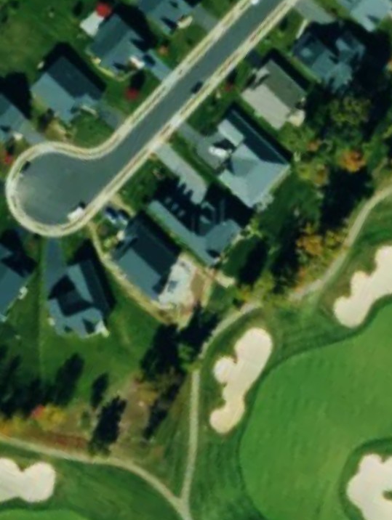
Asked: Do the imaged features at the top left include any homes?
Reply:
Yes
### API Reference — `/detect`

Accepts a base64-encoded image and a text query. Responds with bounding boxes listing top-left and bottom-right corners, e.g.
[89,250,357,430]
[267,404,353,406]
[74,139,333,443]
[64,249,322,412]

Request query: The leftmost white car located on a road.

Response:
[69,204,84,218]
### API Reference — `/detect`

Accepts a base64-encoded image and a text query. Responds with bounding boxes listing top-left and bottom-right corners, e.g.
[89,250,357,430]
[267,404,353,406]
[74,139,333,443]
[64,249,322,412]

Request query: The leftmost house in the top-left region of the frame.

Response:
[0,93,33,152]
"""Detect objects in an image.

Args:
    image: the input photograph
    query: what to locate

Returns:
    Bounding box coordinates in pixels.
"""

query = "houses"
[0,93,33,152]
[340,0,392,30]
[135,0,200,36]
[109,218,186,295]
[241,61,310,133]
[0,245,39,322]
[289,19,366,91]
[30,56,102,129]
[86,14,151,77]
[211,111,298,212]
[44,258,115,342]
[144,187,249,271]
